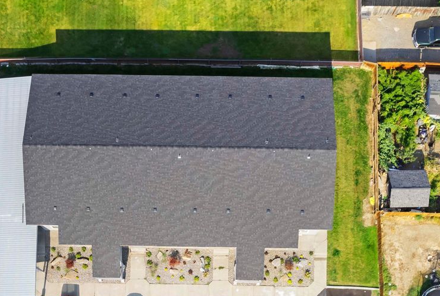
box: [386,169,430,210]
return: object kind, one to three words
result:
shed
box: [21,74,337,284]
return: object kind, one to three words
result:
house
